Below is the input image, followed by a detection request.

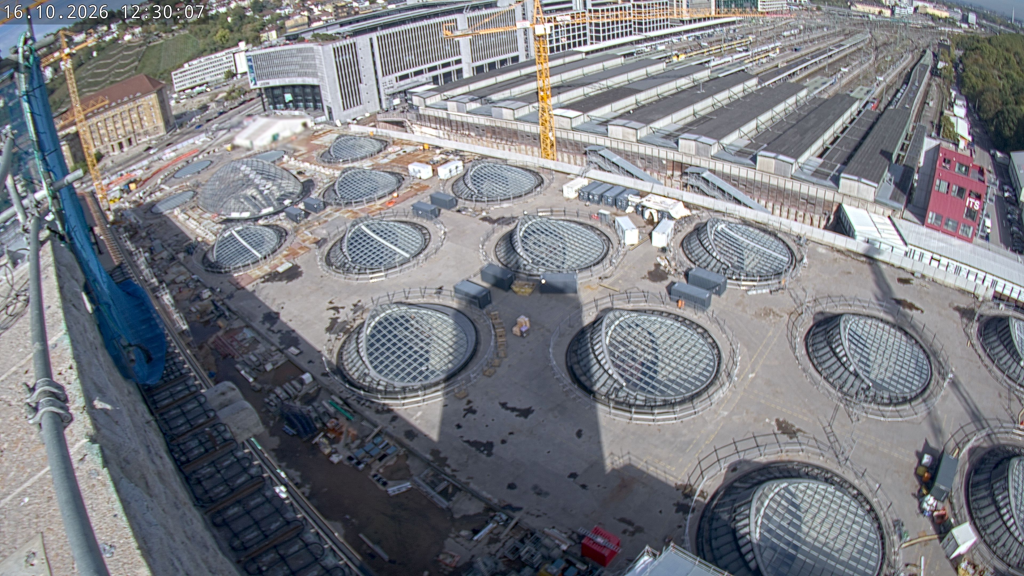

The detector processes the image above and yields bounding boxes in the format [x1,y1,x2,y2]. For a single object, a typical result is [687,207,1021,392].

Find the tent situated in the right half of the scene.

[635,194,689,224]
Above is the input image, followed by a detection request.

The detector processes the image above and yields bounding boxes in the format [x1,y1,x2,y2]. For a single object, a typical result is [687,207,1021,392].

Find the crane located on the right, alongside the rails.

[451,0,794,160]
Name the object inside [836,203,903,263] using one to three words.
building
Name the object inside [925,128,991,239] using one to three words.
building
